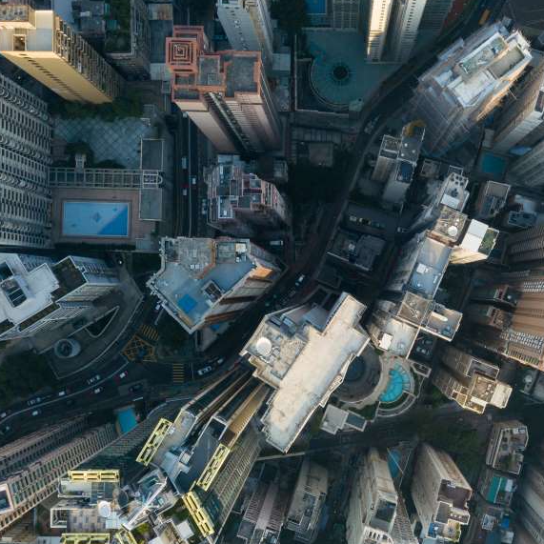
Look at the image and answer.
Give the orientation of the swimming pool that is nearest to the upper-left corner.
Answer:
horizontally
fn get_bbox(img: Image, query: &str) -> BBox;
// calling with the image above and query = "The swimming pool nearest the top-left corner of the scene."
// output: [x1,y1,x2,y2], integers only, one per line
[63,202,128,236]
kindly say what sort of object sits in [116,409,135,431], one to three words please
swimming pool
